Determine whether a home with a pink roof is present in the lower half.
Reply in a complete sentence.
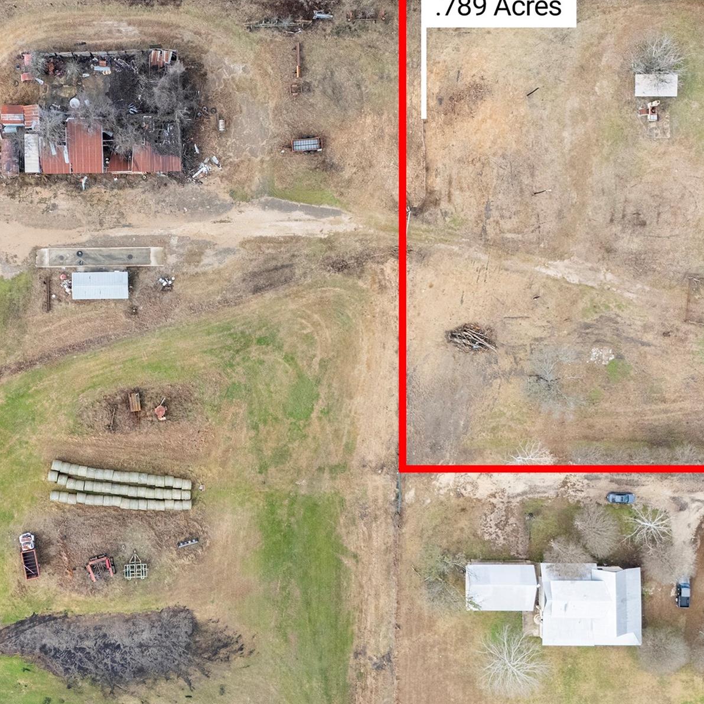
No, I see no home with a pink roof in the lower half.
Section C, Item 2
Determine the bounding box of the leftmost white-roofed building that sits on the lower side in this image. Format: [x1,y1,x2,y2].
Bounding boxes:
[463,561,541,611]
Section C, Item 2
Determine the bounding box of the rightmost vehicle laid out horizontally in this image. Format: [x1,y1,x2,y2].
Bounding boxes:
[608,493,637,506]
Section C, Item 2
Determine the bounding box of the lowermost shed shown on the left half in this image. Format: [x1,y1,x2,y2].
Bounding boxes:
[72,269,129,300]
